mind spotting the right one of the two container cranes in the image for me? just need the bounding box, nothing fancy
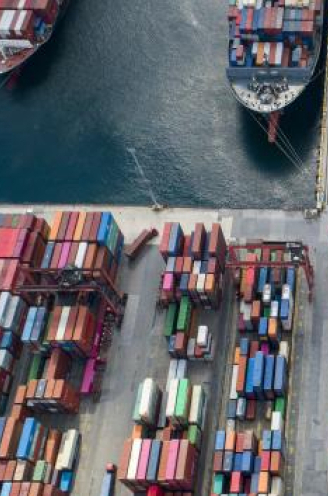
[223,241,317,299]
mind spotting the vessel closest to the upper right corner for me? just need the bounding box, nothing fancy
[227,0,324,192]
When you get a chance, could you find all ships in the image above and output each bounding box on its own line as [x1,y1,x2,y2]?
[0,0,80,100]
[227,0,324,192]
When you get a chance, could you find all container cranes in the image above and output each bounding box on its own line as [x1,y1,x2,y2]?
[223,241,317,299]
[5,263,129,321]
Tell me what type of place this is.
port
